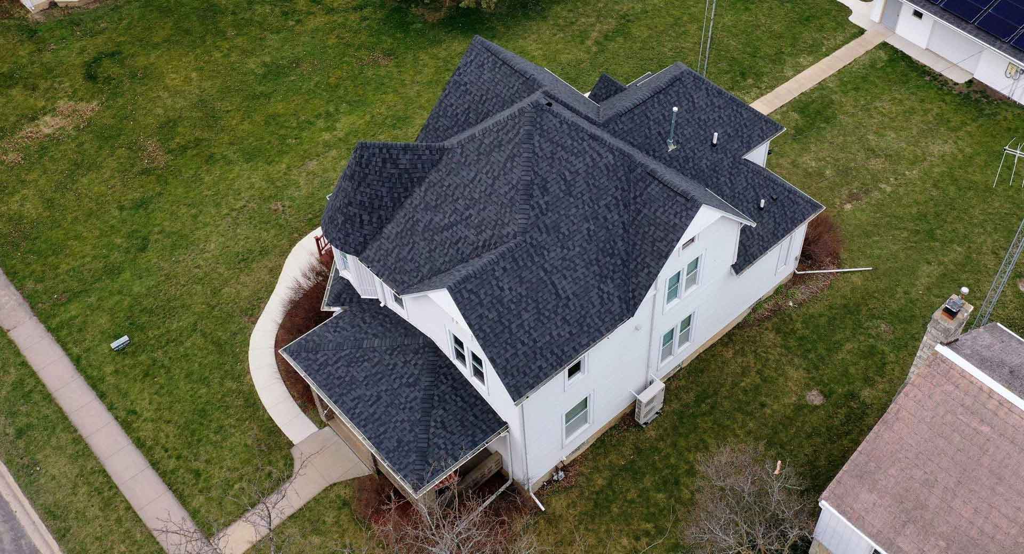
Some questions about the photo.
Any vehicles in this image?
No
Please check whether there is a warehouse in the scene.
No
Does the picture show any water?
No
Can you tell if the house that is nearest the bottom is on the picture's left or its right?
right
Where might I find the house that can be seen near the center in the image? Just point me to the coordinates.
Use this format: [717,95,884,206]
[276,34,872,541]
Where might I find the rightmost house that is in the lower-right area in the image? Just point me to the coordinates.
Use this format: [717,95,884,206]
[813,290,1024,554]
